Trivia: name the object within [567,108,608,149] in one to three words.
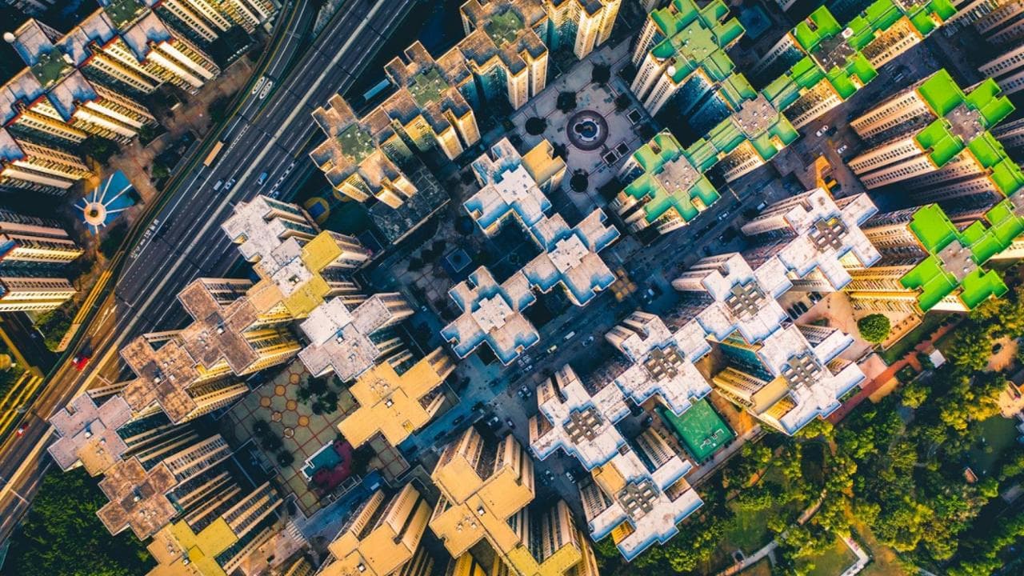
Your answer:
fountain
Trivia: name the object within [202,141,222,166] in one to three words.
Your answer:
vehicle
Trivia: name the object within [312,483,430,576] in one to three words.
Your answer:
building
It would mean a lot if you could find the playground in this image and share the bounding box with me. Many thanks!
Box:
[297,175,373,240]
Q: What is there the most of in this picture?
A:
buildings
